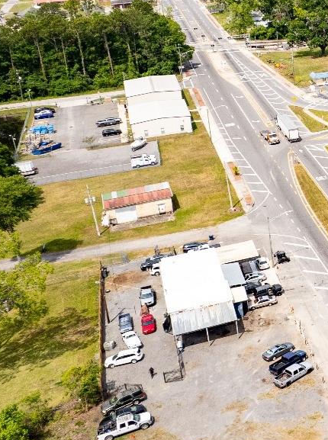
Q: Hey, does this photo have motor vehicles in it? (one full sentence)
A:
Yes, I can see a motor vehicle in this picture.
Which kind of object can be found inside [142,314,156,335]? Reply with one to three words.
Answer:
vehicle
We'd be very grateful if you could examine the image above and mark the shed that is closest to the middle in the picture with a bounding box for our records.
[104,190,174,223]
